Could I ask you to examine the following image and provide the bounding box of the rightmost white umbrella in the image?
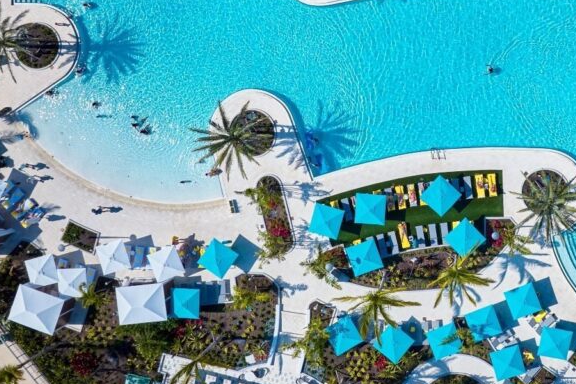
[147,246,185,282]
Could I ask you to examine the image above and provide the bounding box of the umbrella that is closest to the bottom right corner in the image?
[537,326,573,361]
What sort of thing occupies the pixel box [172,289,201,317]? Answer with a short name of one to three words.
umbrella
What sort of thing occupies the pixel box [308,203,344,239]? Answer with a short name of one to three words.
umbrella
